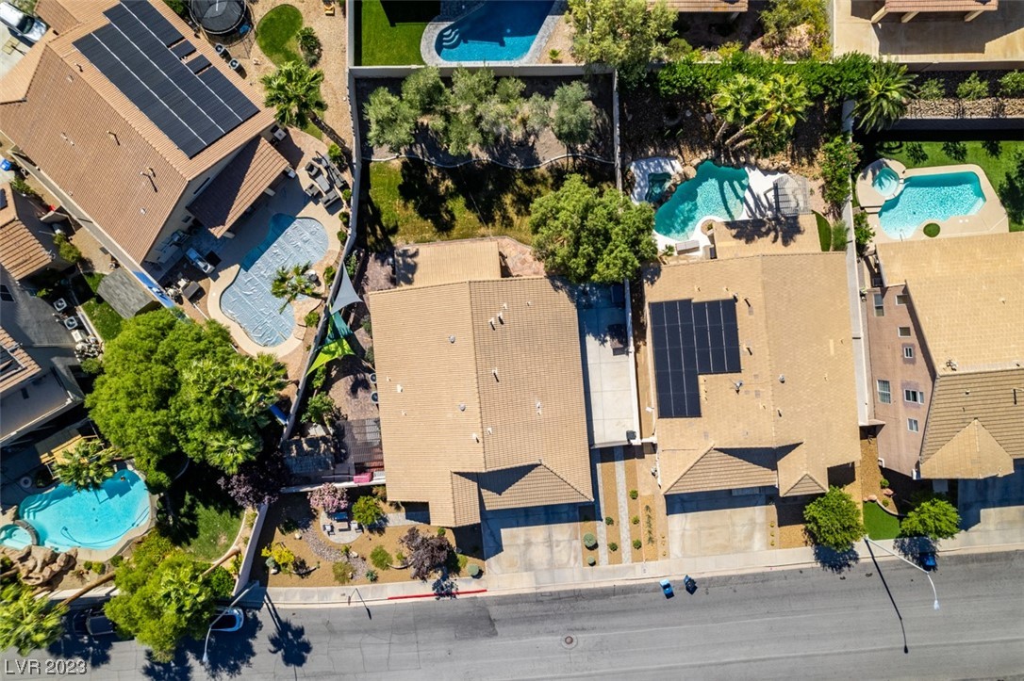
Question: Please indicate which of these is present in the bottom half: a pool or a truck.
pool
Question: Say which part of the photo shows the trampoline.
top left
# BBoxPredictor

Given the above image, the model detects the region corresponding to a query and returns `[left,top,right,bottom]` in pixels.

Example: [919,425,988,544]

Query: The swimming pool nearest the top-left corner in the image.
[220,213,329,347]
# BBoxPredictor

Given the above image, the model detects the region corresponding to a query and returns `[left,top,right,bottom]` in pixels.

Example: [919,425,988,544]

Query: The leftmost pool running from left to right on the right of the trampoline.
[429,0,578,65]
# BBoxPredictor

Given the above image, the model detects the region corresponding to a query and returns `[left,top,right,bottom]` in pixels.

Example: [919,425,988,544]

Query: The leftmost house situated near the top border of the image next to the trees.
[0,0,295,264]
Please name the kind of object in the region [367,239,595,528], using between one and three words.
house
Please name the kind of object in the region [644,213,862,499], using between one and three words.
house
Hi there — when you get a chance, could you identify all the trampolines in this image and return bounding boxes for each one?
[178,0,250,40]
